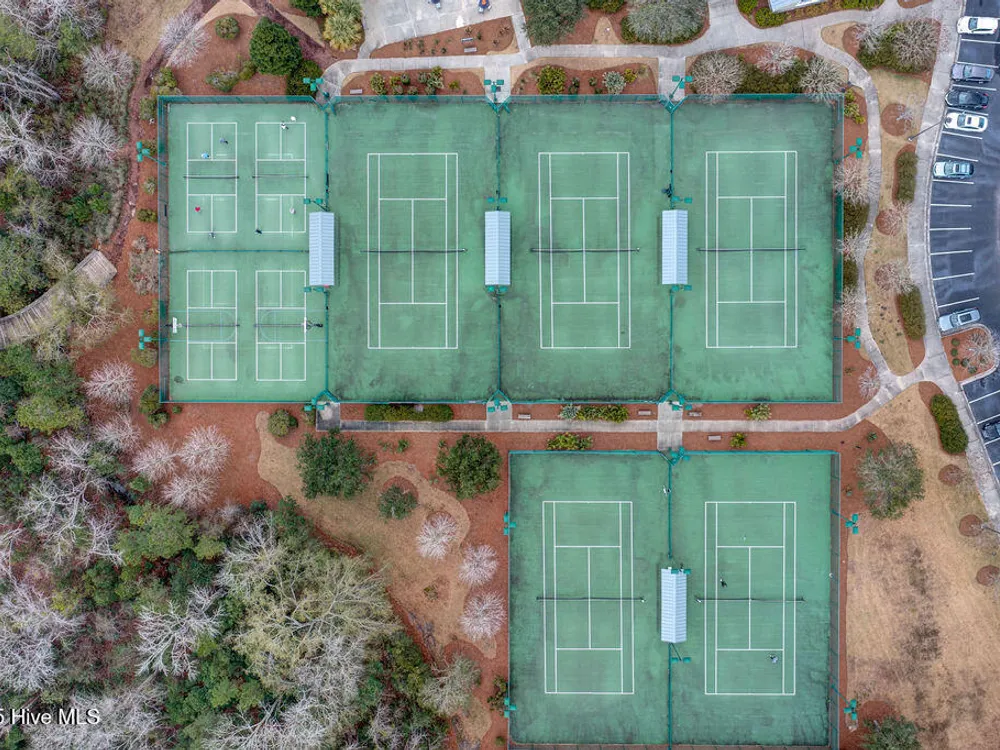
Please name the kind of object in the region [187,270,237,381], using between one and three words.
sports court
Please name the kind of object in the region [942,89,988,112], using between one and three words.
car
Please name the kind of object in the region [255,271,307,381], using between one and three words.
sports court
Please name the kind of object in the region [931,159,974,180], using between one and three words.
car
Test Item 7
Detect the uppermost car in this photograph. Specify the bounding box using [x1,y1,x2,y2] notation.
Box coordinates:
[953,15,998,38]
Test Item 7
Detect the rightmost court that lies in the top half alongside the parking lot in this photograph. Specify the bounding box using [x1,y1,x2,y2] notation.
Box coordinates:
[672,103,833,402]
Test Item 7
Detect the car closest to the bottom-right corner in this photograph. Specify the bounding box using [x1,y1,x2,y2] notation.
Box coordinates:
[978,415,1000,438]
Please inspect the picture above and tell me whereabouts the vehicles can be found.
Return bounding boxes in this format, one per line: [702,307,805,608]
[931,159,974,180]
[936,308,981,332]
[978,415,1000,438]
[948,62,994,85]
[953,15,998,38]
[941,111,986,134]
[942,89,988,112]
